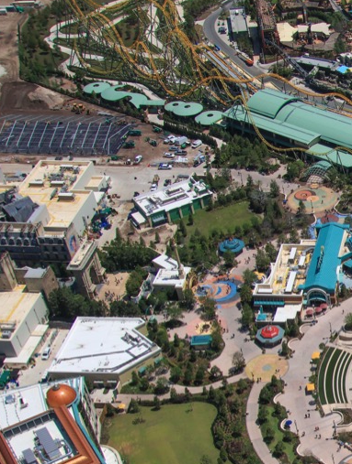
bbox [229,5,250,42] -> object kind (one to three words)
house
